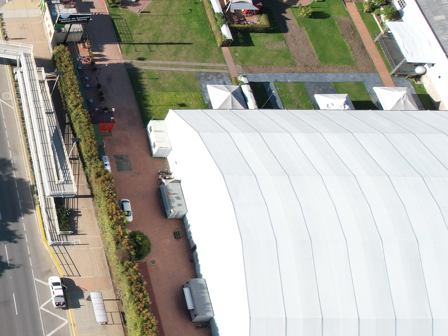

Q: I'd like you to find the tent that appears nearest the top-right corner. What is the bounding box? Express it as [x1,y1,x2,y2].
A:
[365,87,418,110]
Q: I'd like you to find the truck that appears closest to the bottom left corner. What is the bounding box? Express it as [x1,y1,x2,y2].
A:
[48,275,69,311]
